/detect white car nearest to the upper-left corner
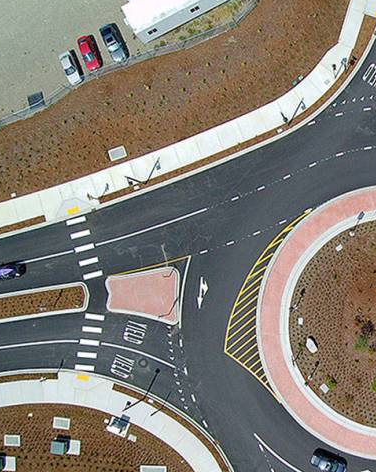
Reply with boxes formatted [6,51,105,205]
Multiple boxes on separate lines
[59,48,83,86]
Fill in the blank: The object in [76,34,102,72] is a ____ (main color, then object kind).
red car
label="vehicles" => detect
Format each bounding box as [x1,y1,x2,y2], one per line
[0,262,23,280]
[310,452,347,472]
[59,48,83,86]
[100,23,128,63]
[76,34,102,72]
